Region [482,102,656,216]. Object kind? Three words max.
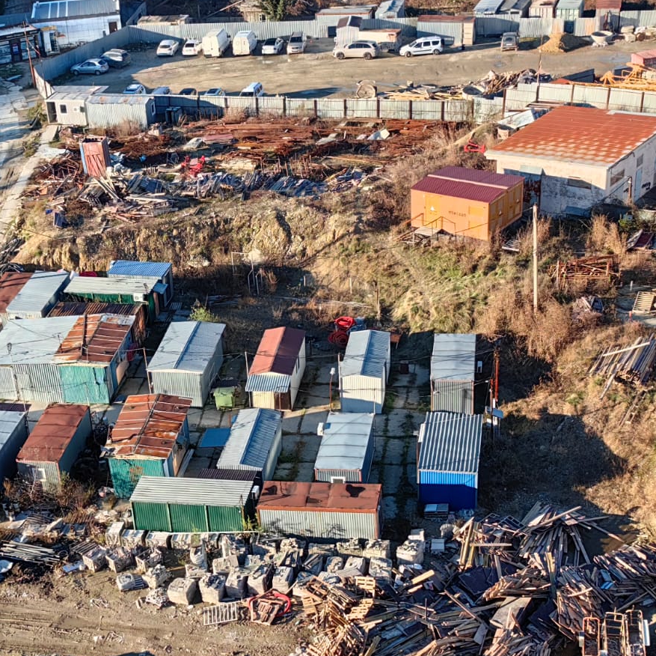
building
